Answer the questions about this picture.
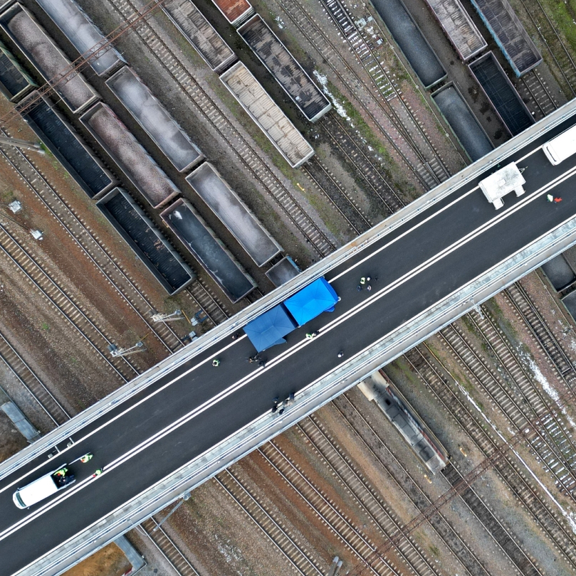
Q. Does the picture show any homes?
No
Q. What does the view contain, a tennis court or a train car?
train car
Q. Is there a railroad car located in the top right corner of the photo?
Yes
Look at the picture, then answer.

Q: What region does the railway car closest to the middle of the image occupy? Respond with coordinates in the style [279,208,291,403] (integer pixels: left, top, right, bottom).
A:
[266,256,304,288]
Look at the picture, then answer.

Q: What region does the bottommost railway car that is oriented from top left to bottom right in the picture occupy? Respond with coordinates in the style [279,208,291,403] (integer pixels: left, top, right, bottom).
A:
[356,369,454,476]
